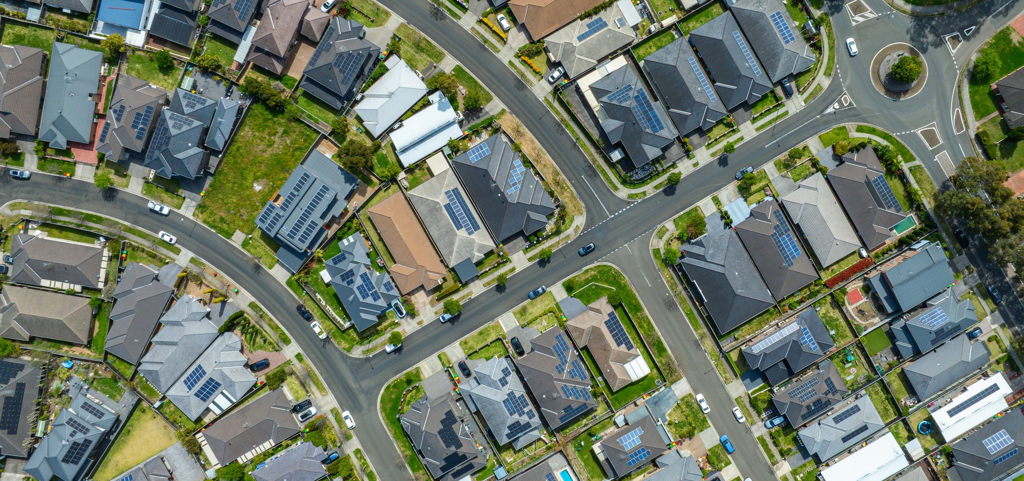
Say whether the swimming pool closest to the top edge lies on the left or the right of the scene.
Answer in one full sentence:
The swimming pool closest to the top edge is on the right side of the image.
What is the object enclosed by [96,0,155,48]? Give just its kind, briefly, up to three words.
house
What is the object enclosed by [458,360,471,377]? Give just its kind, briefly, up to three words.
vehicle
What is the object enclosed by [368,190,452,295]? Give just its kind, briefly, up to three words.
house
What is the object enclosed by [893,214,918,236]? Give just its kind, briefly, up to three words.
swimming pool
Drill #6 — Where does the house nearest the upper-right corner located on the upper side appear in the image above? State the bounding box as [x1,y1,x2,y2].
[992,67,1024,123]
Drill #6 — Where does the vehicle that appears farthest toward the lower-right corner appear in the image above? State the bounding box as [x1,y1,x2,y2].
[965,325,986,339]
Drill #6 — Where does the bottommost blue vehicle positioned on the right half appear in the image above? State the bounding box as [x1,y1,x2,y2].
[719,434,734,456]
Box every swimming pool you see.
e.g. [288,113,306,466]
[559,468,573,481]
[893,214,918,236]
